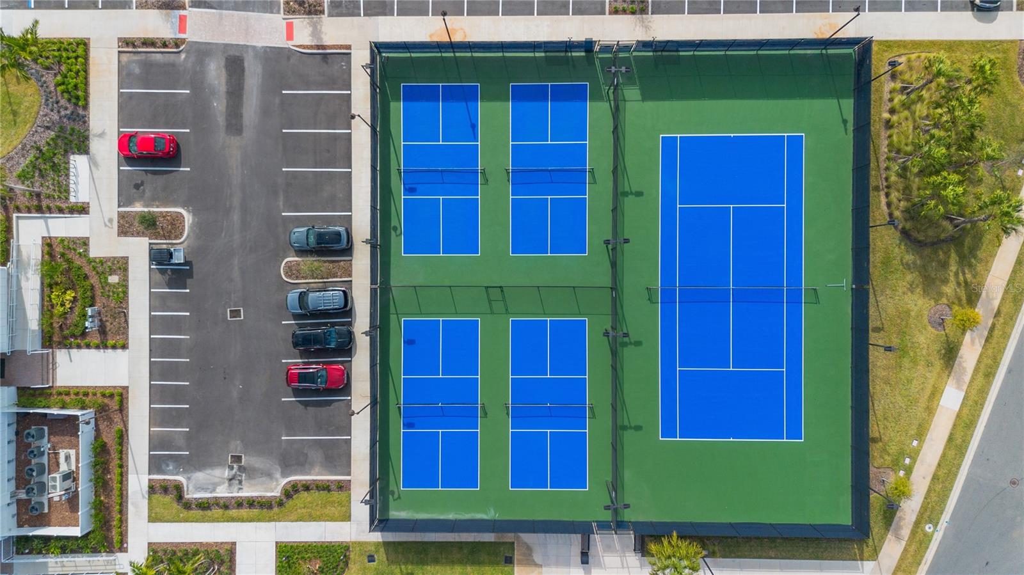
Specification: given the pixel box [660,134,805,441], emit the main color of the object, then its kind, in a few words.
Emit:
blue tennis court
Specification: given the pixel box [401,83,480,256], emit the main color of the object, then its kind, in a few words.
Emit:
blue sports court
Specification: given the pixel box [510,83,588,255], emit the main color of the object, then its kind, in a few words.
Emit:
blue sports court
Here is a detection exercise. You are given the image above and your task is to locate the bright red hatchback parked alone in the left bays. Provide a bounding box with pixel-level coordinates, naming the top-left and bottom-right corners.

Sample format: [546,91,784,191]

[121,129,179,159]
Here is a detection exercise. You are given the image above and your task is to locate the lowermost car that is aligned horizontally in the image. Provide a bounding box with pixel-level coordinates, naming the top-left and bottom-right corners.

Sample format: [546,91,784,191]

[288,364,348,392]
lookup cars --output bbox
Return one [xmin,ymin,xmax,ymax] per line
[289,287,351,316]
[291,224,352,253]
[121,129,179,159]
[288,364,348,392]
[292,325,354,353]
